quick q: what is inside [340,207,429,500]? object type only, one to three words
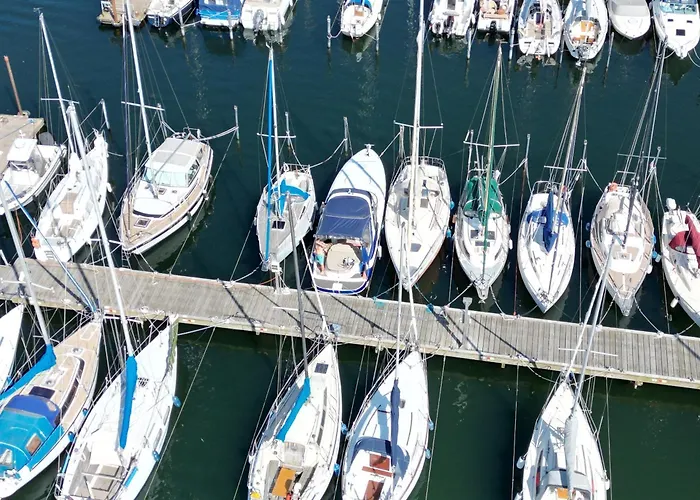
boat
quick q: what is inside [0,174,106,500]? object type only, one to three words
boat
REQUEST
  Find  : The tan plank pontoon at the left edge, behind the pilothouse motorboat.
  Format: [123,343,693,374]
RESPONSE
[0,116,47,149]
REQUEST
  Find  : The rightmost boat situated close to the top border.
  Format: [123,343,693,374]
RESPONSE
[647,0,699,61]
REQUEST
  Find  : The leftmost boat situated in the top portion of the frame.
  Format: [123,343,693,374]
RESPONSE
[0,129,67,222]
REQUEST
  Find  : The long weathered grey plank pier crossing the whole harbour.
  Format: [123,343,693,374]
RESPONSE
[0,259,700,388]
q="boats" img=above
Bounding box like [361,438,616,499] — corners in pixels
[647,0,699,61]
[31,0,109,266]
[455,25,518,295]
[0,272,26,400]
[340,207,429,500]
[514,0,558,58]
[385,0,449,293]
[312,140,390,299]
[0,174,106,500]
[516,52,584,311]
[660,176,700,317]
[0,129,67,222]
[243,0,292,34]
[589,31,665,318]
[341,0,384,42]
[522,225,614,500]
[604,0,648,41]
[429,0,472,40]
[121,0,218,256]
[256,33,317,270]
[146,0,198,27]
[53,85,187,500]
[474,0,512,34]
[247,174,343,500]
[562,0,607,67]
[200,0,244,29]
